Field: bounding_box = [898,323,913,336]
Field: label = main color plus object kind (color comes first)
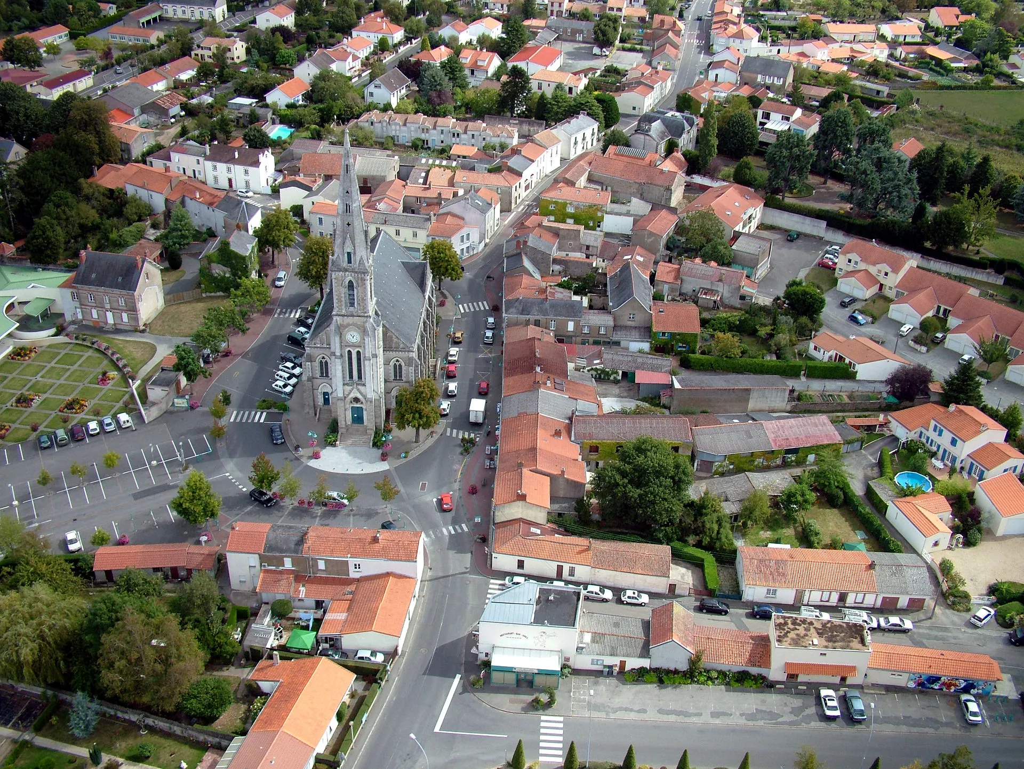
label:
white vehicle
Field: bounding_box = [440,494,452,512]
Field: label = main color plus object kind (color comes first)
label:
red vehicle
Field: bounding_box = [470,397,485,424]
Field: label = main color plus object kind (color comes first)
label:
white vehicle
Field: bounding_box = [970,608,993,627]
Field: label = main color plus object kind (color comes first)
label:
white car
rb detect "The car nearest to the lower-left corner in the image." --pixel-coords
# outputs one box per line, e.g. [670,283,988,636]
[65,530,81,548]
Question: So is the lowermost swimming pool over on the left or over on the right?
right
